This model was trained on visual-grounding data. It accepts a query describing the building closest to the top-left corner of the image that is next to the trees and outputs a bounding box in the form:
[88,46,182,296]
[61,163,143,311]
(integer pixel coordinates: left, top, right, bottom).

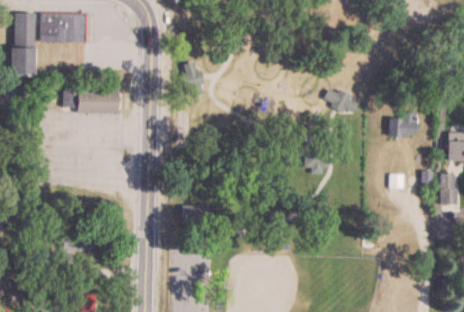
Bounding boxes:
[14,12,36,46]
